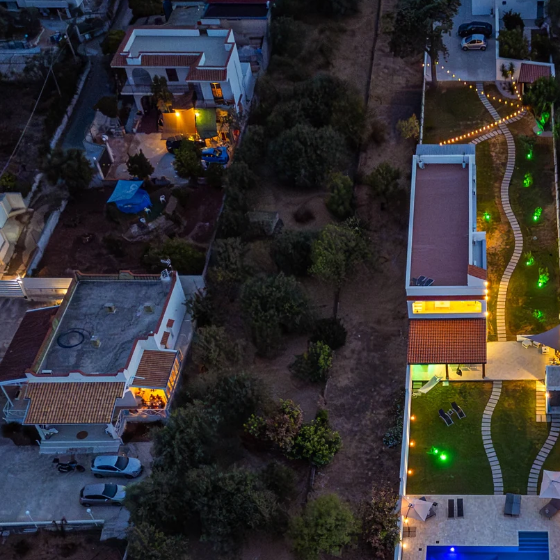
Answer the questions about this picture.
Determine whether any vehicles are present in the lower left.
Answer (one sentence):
Yes, the scene does show a vehicle in the lower left.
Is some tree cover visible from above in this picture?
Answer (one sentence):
Yes, tree cover can be seen from above here.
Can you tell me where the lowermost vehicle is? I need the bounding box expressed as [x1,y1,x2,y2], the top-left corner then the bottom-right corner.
[77,483,132,508]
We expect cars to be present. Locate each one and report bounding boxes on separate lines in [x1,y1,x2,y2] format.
[456,22,496,39]
[77,483,132,508]
[88,455,141,480]
[199,146,234,165]
[459,35,488,52]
